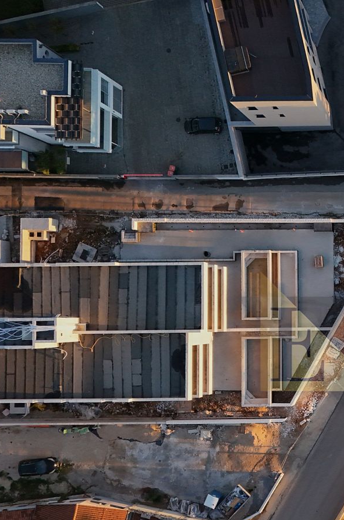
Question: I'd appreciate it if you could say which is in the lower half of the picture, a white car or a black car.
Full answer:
You can see a black car in the lower half of the picture.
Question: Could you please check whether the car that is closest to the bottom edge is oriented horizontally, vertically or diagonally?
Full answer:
I'd say the car that is closest to the bottom edge is aligned horizontally in the picture.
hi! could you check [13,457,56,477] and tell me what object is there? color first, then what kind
black car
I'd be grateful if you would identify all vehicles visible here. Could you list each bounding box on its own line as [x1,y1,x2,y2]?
[13,457,56,477]
[182,113,222,133]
